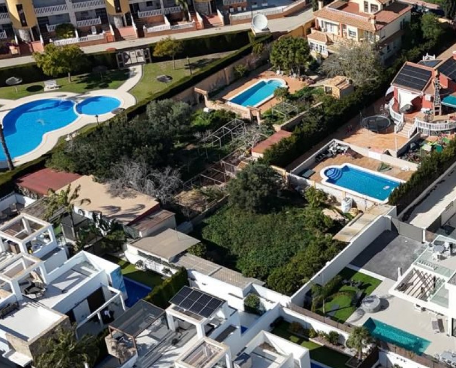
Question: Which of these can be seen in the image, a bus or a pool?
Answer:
pool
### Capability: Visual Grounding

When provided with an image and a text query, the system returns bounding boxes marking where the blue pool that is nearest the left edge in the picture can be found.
[0,97,81,163]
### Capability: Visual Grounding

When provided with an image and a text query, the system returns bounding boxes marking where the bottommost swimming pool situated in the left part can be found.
[120,272,156,308]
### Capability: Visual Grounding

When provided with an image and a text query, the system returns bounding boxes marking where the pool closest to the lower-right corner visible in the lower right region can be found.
[362,315,434,356]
